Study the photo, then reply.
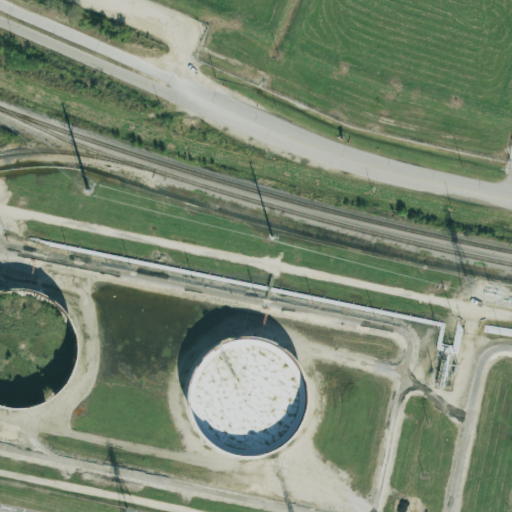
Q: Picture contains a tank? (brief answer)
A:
Yes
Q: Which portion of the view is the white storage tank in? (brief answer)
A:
bottom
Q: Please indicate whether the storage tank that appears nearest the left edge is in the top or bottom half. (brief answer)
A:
bottom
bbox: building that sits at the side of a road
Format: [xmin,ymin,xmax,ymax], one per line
[436,348,458,392]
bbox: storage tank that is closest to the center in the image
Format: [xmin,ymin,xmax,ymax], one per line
[186,336,310,461]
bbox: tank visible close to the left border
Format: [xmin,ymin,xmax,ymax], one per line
[0,287,79,412]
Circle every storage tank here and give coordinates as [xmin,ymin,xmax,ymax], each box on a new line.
[186,336,310,461]
[0,287,79,412]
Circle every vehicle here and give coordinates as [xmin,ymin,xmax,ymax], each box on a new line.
[188,64,198,75]
[470,298,482,306]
